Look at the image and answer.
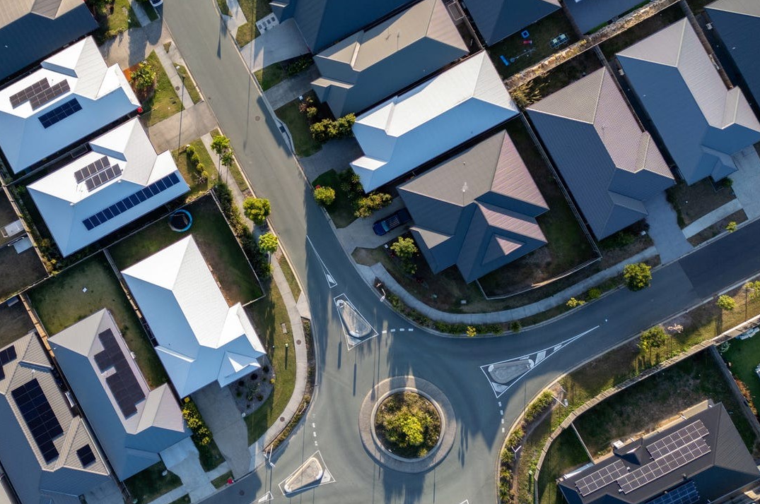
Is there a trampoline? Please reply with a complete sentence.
Yes, there's a trampoline here.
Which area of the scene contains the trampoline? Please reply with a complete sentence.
The trampoline is in the left part of the image.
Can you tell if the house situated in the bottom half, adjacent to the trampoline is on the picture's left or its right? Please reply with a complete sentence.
You can find the house situated in the bottom half, adjacent to the trampoline on the left side of the picture.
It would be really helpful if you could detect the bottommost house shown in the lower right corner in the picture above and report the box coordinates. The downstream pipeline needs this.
[554,397,760,504]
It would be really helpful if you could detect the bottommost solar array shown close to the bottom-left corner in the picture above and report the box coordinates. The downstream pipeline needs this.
[76,445,96,467]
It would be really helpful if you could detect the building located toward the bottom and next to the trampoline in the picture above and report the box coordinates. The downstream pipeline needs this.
[120,234,266,400]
